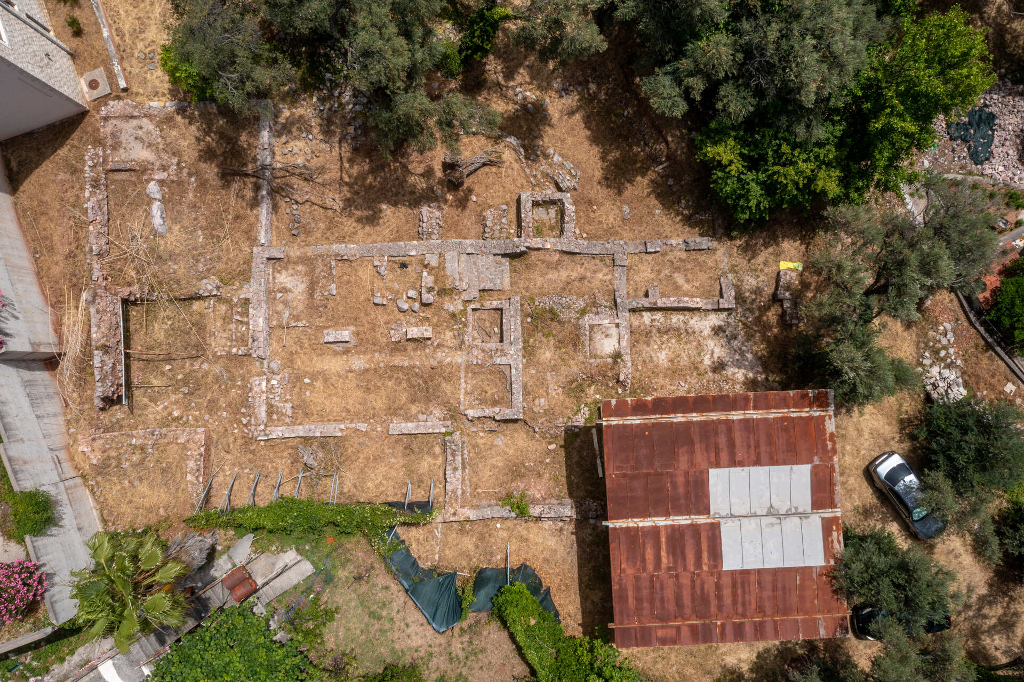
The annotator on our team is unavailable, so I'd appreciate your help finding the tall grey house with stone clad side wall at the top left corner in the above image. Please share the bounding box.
[0,0,89,142]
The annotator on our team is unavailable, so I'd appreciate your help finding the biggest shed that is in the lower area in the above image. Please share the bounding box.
[597,390,850,648]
